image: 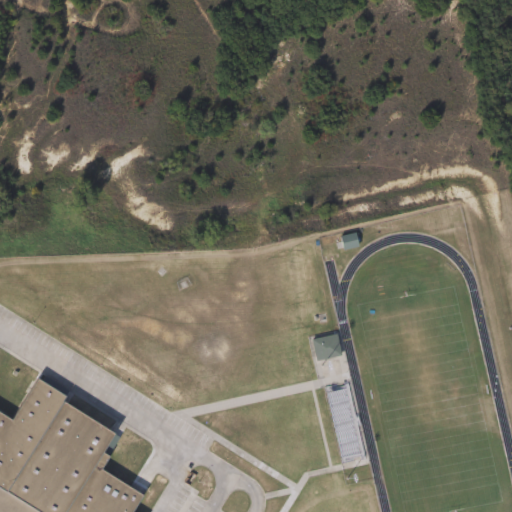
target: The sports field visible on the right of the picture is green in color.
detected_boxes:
[357,284,502,512]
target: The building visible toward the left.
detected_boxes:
[0,380,144,512]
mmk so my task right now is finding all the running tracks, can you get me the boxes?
[320,232,512,512]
